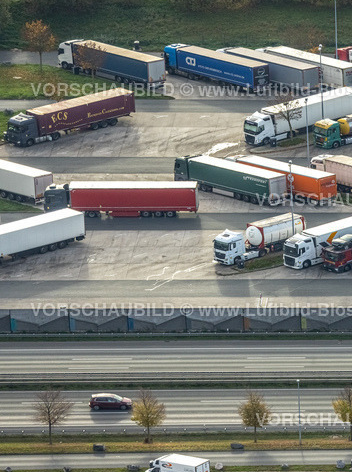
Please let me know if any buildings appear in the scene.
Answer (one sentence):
No, there is no building in the image.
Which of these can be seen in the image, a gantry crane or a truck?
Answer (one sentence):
Looking from above, you can make out a truck.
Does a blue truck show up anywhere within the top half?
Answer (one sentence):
Yes, a blue truck shows up within the top half.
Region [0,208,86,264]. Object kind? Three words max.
truck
